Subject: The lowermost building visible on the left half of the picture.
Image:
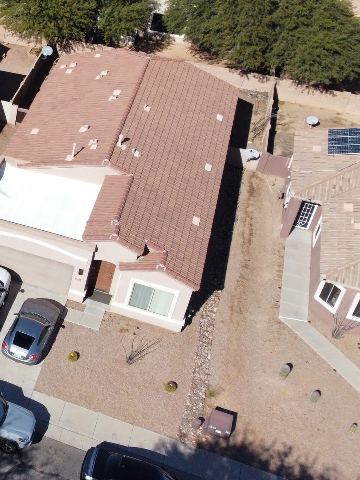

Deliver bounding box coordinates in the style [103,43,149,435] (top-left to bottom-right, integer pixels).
[0,46,240,328]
